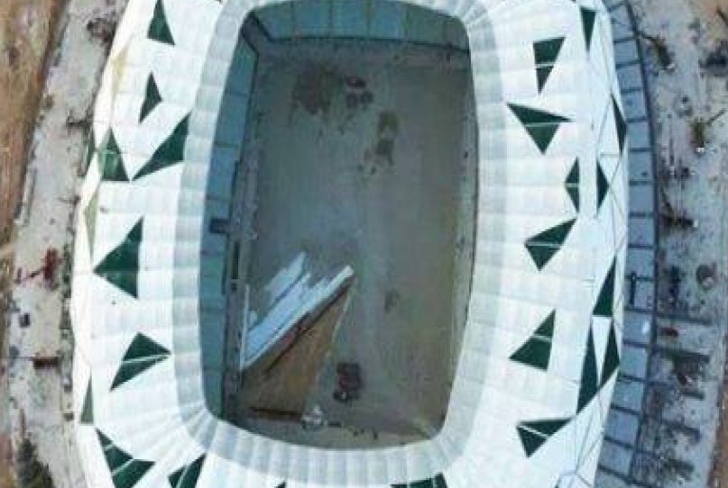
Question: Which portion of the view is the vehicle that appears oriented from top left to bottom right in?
bottom right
